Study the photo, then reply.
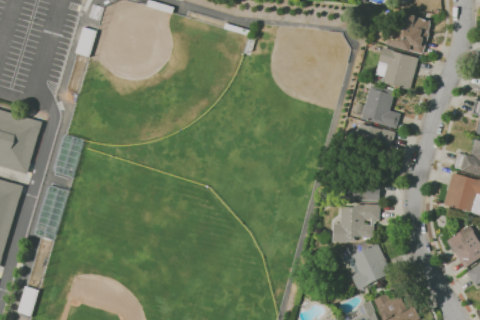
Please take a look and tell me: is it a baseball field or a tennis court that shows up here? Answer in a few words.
baseball field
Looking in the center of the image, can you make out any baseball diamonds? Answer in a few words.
Yes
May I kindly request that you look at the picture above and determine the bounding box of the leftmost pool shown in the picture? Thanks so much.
[299,304,326,320]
